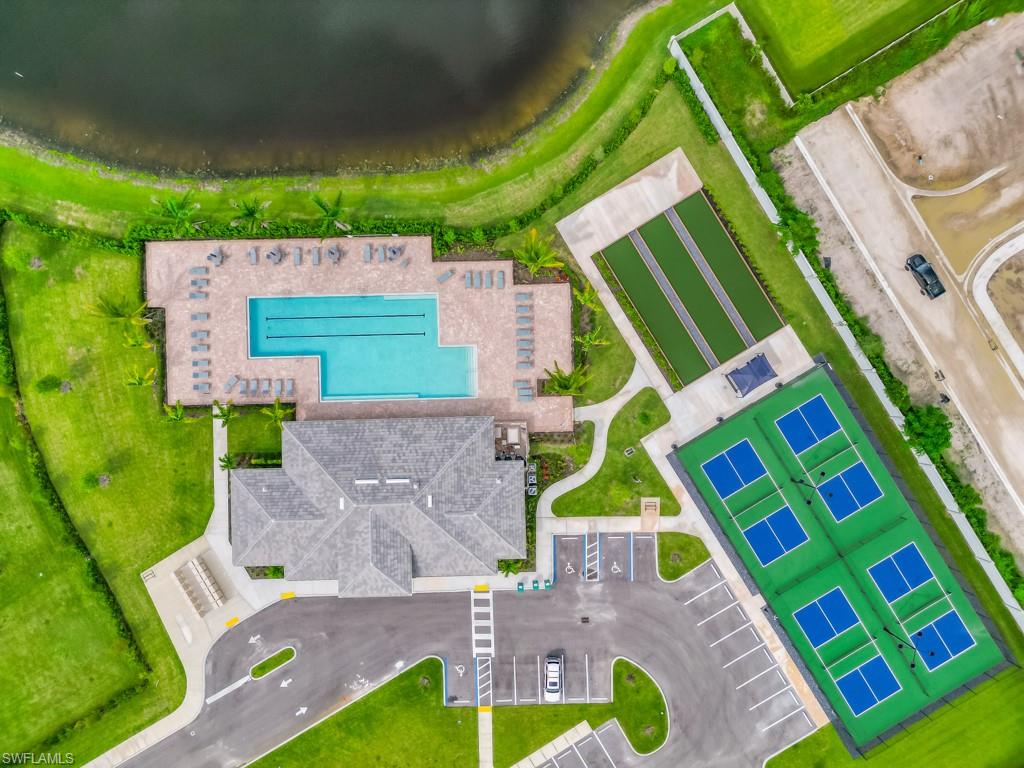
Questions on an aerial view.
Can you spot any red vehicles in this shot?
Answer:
No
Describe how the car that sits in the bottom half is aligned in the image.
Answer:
up and down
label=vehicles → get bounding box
[906,254,948,302]
[544,655,564,700]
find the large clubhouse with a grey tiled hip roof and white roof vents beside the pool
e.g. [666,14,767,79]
[231,416,527,597]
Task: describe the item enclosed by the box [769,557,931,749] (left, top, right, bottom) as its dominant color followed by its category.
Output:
green sports court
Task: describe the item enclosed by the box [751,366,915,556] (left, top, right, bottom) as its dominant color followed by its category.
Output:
green sports court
